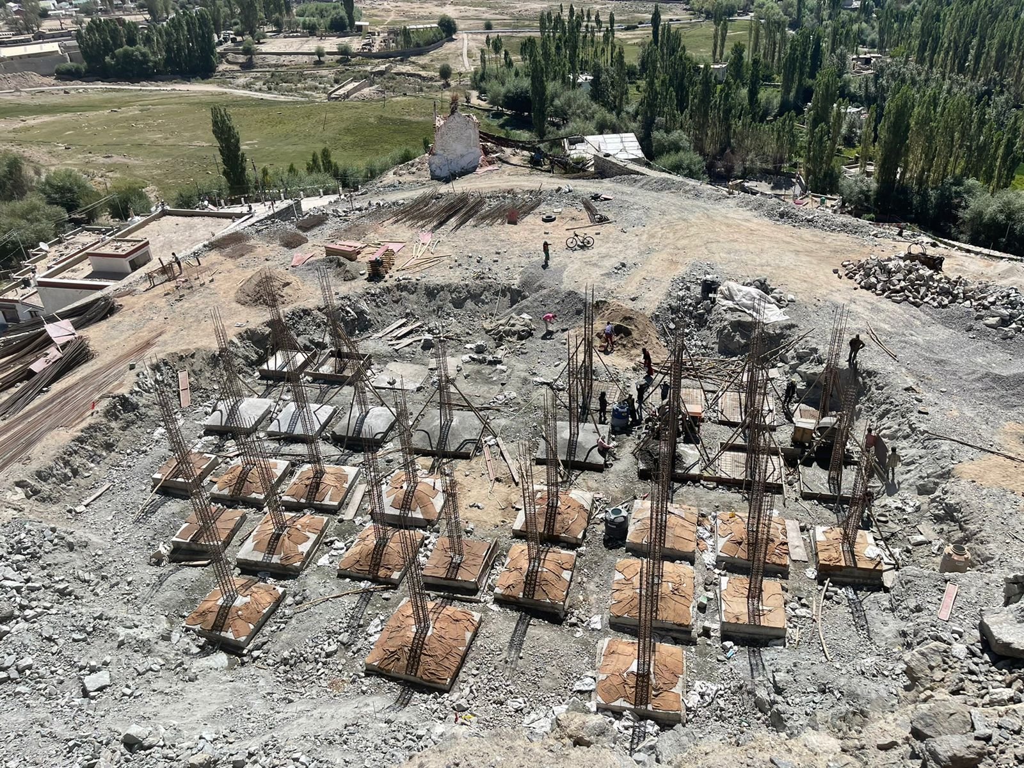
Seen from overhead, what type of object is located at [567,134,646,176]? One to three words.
house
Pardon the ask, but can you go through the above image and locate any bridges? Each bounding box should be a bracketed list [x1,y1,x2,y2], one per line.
[327,69,370,100]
